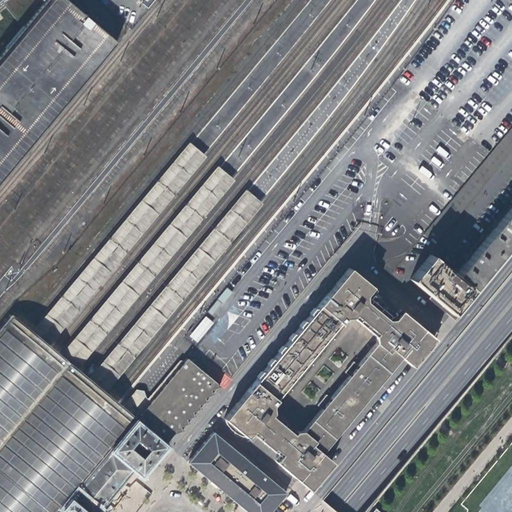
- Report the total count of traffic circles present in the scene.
0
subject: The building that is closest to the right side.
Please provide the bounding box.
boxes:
[458,206,512,290]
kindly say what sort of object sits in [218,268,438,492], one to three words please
building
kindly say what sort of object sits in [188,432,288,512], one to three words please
building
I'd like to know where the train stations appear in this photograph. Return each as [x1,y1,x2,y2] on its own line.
[0,314,136,512]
